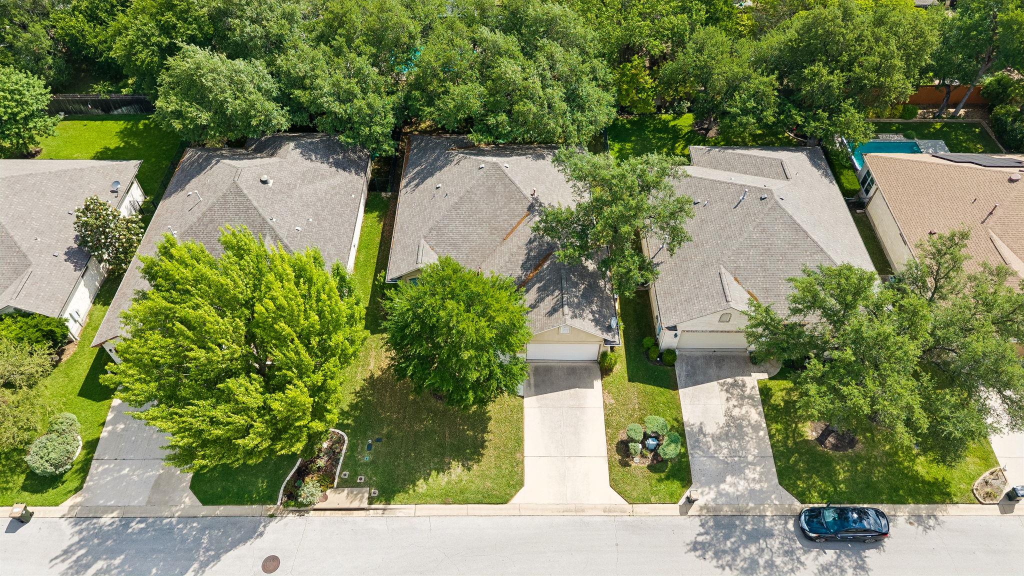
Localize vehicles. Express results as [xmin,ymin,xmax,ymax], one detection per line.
[797,504,896,548]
